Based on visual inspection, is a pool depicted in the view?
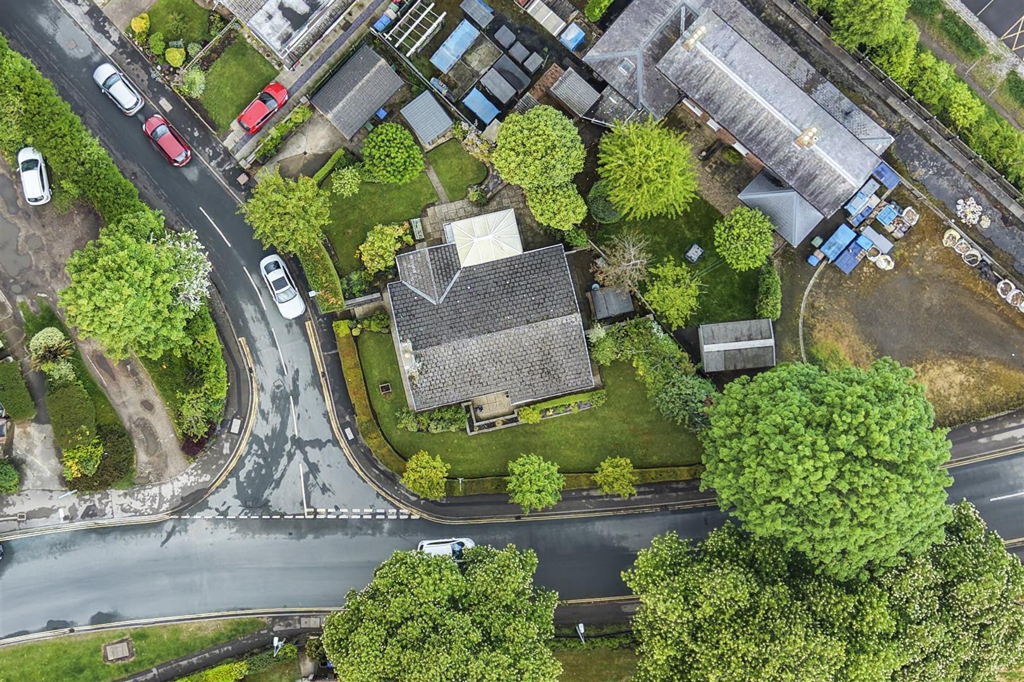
No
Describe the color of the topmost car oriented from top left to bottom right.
white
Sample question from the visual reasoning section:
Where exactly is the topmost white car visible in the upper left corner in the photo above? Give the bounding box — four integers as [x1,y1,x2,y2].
[92,61,145,117]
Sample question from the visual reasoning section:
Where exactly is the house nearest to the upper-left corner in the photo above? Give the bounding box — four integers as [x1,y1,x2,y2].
[219,0,359,72]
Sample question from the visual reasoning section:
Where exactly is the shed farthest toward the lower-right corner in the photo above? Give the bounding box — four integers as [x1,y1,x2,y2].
[699,319,776,372]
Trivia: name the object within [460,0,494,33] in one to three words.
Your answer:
shed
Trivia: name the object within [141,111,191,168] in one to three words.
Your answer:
car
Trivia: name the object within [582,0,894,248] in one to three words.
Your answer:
house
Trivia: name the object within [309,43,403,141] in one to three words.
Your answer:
building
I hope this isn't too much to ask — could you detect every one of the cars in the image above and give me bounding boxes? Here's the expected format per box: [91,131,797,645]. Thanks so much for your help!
[141,111,191,168]
[262,252,302,321]
[92,61,145,117]
[14,146,51,206]
[417,537,476,564]
[237,80,289,134]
